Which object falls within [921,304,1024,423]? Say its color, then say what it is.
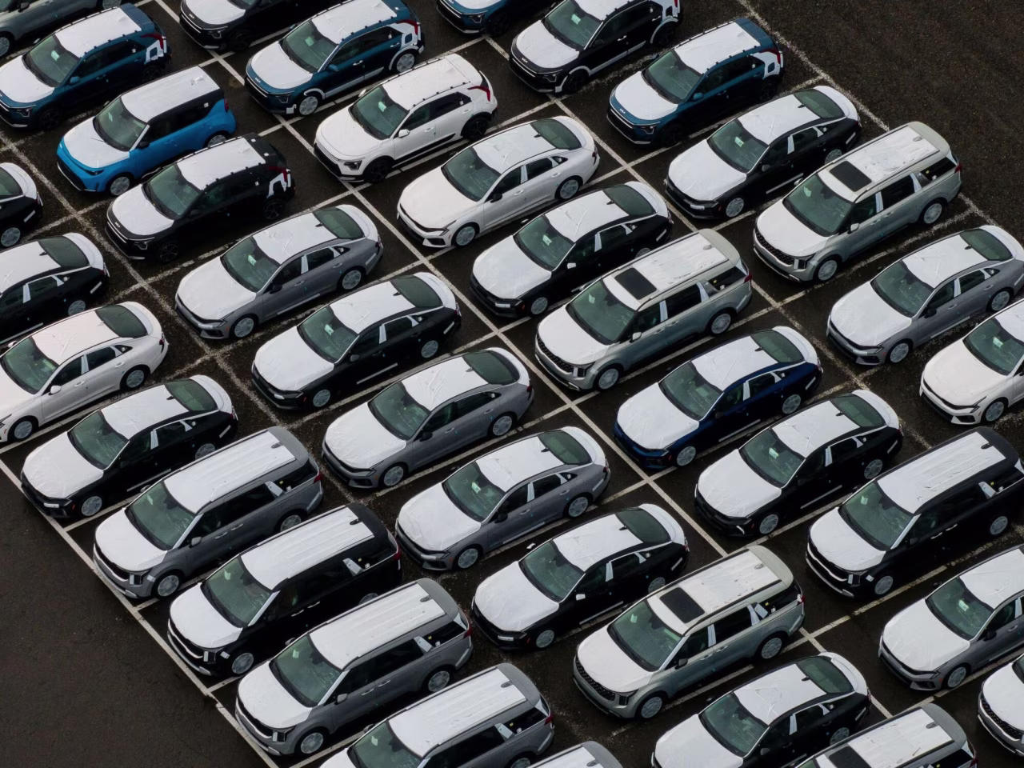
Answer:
white car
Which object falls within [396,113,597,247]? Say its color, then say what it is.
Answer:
white car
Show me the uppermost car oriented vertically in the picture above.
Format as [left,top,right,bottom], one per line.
[0,159,40,249]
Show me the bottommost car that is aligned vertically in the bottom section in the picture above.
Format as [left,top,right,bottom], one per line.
[974,631,1024,743]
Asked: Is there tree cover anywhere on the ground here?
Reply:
No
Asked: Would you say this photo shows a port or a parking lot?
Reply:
parking lot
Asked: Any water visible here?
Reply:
No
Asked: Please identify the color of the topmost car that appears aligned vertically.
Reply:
black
